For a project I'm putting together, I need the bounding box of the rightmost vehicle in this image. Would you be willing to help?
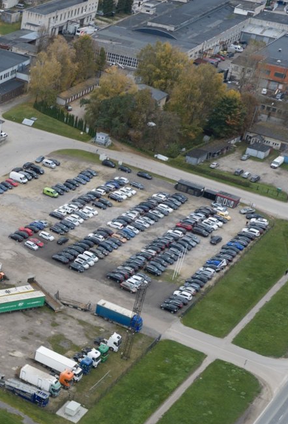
[272,154,285,167]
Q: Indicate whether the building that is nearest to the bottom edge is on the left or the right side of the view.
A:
left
